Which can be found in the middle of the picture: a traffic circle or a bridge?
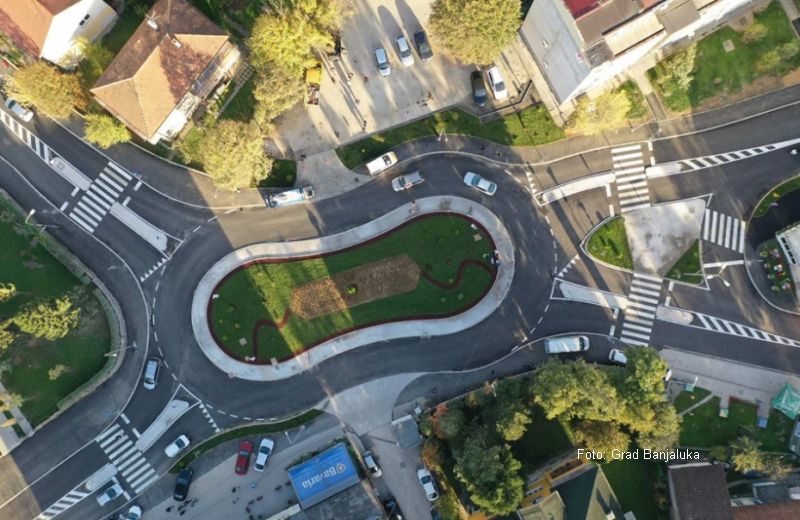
traffic circle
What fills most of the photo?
paved ground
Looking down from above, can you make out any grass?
Yes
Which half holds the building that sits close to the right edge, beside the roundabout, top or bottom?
top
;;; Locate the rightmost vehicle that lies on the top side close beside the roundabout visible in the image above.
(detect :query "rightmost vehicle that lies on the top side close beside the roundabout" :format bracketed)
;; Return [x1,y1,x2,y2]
[462,172,498,196]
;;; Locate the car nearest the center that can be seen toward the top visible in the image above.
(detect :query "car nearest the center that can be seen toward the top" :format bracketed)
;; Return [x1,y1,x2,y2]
[390,170,426,192]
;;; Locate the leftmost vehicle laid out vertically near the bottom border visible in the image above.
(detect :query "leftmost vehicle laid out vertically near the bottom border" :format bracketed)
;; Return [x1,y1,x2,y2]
[174,465,195,502]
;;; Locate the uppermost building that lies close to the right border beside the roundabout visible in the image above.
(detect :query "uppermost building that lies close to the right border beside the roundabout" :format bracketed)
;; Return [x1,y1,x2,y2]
[517,0,769,104]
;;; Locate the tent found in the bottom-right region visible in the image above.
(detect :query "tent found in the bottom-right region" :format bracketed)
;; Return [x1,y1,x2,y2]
[759,377,800,421]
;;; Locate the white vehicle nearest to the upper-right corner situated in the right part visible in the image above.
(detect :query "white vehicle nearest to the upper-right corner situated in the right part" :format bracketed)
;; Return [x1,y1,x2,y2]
[486,65,507,102]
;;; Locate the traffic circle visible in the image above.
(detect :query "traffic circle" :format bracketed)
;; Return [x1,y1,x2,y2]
[191,194,516,382]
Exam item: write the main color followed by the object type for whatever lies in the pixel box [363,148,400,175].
white vehicle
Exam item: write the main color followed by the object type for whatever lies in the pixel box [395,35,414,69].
white car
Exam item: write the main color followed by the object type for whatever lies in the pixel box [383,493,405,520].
black car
